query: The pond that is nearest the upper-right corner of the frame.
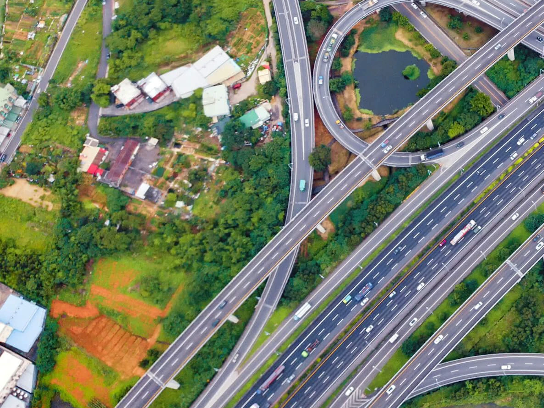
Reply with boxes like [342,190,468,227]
[352,51,435,116]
